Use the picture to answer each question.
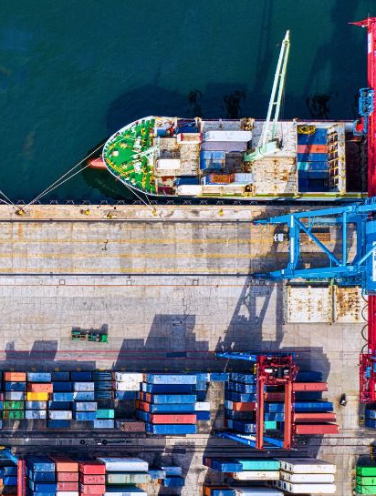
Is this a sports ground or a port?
port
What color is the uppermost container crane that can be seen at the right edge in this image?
blue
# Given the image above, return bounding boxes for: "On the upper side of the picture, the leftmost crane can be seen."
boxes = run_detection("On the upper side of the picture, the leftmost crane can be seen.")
[237,28,292,168]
